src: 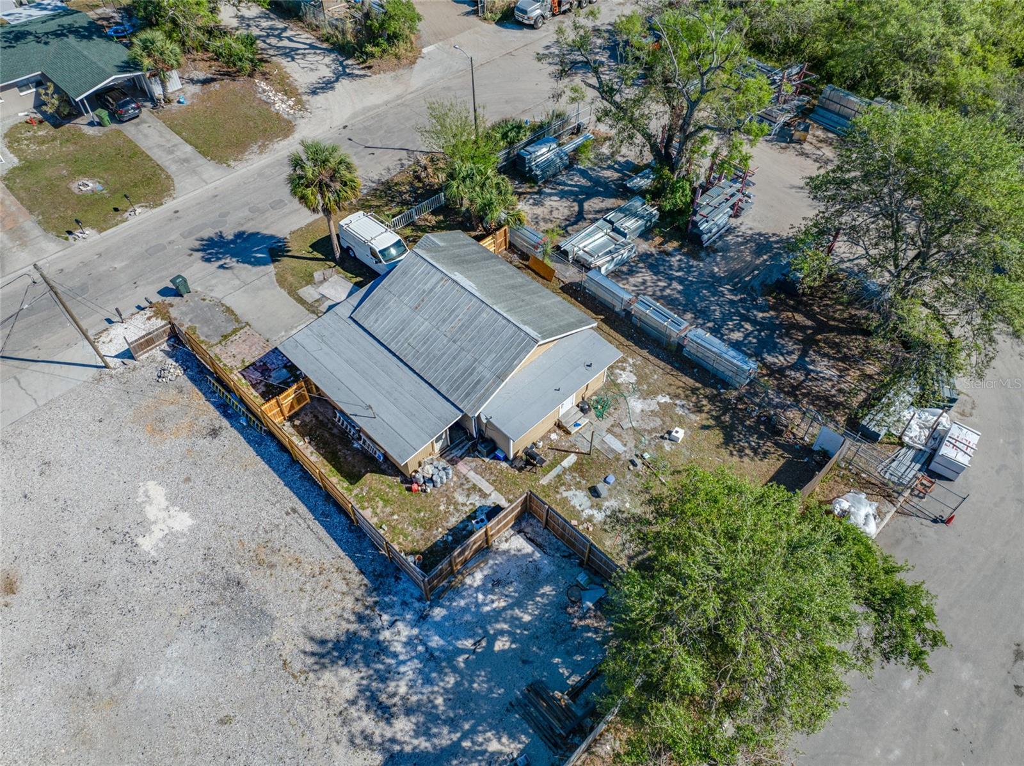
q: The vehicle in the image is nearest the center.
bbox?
[340,211,413,278]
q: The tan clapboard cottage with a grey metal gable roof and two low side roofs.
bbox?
[277,231,617,478]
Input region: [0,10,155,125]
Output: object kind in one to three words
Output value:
house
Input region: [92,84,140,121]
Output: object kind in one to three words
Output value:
car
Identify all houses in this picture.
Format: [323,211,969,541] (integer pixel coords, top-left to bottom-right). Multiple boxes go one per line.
[0,10,155,125]
[277,231,617,478]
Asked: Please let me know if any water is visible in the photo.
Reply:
No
